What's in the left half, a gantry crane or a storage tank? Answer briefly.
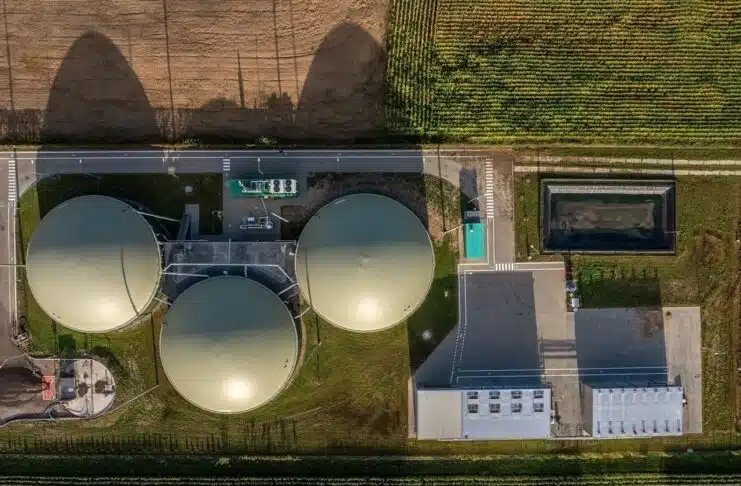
storage tank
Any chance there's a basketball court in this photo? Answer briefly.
No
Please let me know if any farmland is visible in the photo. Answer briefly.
Yes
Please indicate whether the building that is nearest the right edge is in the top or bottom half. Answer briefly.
bottom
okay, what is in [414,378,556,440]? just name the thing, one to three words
building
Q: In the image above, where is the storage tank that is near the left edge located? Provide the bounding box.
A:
[24,195,174,332]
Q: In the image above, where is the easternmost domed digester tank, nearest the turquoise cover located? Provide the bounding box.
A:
[295,192,436,332]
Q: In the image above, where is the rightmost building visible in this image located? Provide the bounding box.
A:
[579,380,685,438]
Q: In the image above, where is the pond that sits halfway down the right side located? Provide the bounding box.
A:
[541,179,678,254]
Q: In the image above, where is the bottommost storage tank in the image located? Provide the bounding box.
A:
[161,270,305,413]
